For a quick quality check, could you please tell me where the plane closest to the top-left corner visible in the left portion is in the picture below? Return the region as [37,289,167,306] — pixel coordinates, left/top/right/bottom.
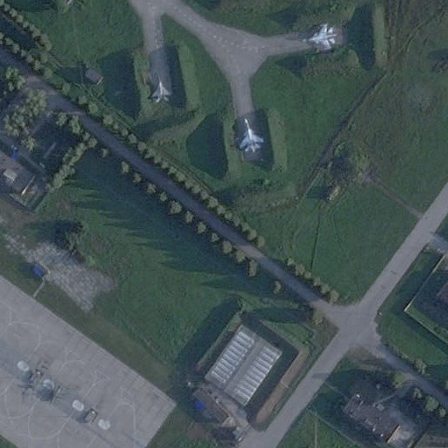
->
[154,81,170,105]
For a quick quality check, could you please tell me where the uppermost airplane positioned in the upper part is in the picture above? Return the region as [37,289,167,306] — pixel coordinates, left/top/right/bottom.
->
[302,23,338,47]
